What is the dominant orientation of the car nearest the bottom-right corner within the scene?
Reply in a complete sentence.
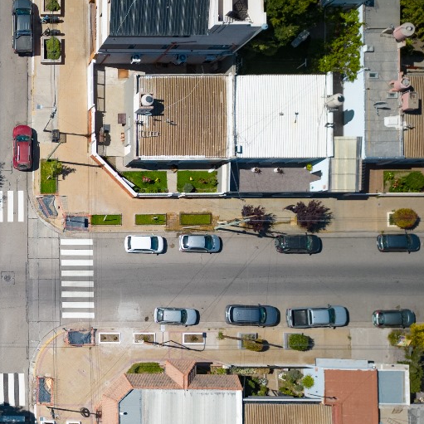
The car nearest the bottom-right corner is laid out horizontally.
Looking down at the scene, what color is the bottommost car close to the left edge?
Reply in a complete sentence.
In this view, the bottommost car close to the left edge is red.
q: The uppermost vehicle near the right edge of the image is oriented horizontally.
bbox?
[373,231,419,254]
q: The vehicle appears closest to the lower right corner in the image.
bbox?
[369,307,415,330]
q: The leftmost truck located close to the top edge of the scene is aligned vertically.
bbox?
[12,0,35,57]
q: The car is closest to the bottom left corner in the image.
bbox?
[152,306,199,328]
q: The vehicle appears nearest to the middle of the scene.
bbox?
[177,233,220,254]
